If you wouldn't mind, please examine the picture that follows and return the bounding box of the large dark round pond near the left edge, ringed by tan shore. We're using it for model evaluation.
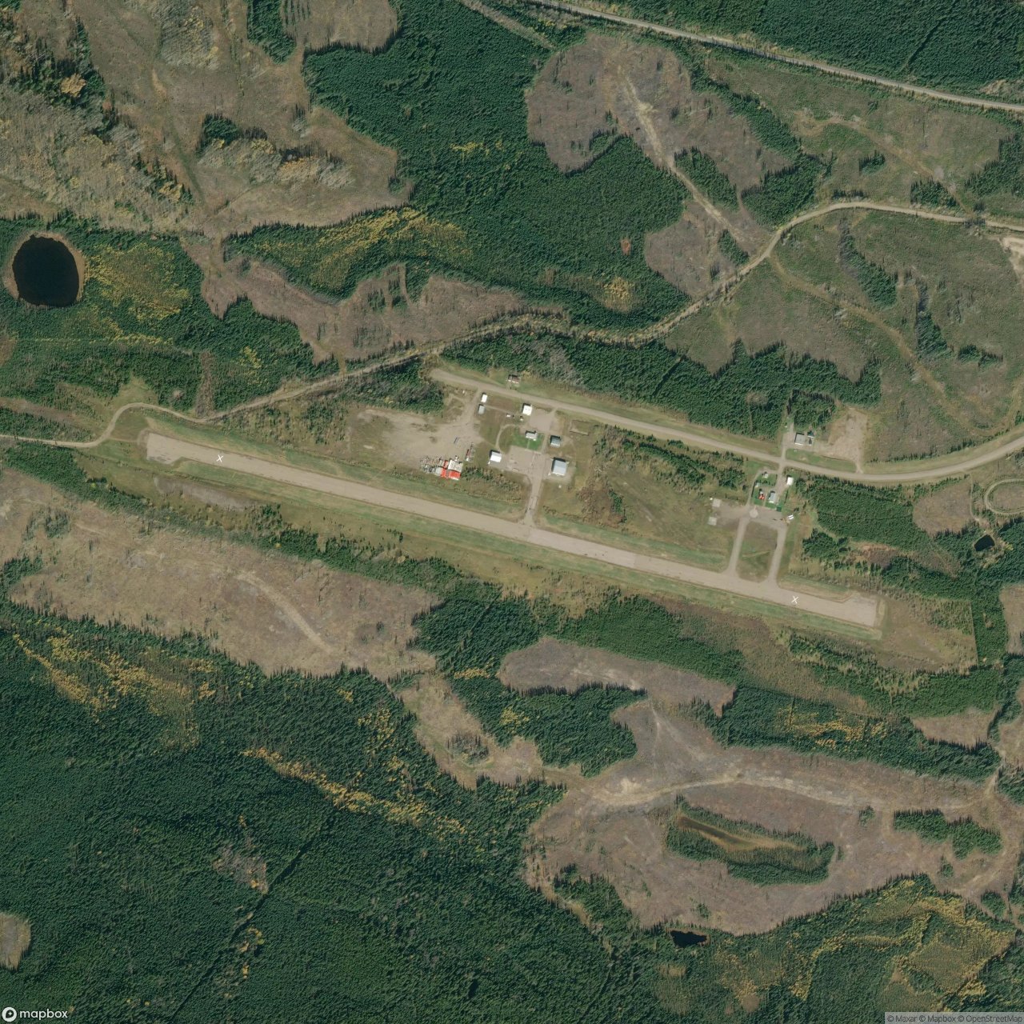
[12,234,79,308]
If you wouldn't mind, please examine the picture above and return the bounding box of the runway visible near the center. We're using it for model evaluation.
[148,433,876,626]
